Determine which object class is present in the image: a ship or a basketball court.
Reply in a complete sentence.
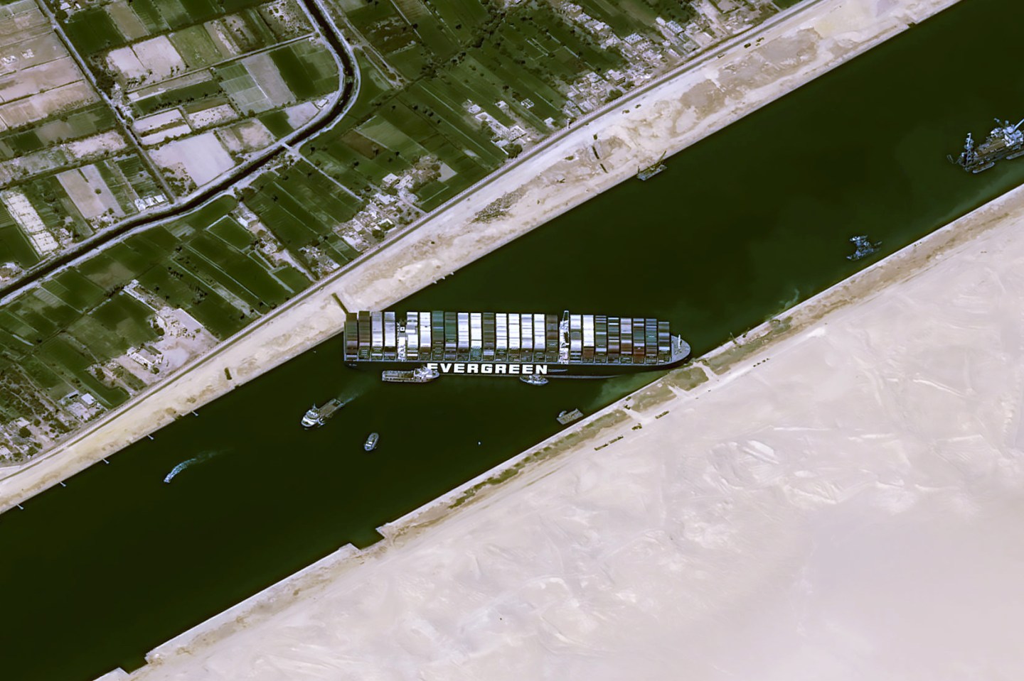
I can see a ship in this picture.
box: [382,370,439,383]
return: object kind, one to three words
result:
vessel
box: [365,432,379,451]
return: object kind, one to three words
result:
boat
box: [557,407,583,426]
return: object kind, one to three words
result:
ship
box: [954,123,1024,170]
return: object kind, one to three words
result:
ship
